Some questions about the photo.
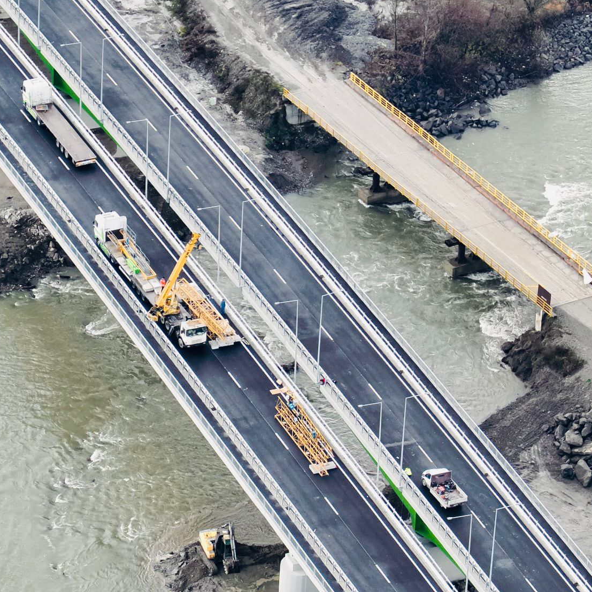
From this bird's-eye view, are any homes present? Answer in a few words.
No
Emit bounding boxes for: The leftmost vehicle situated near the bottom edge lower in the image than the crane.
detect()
[191,526,234,579]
